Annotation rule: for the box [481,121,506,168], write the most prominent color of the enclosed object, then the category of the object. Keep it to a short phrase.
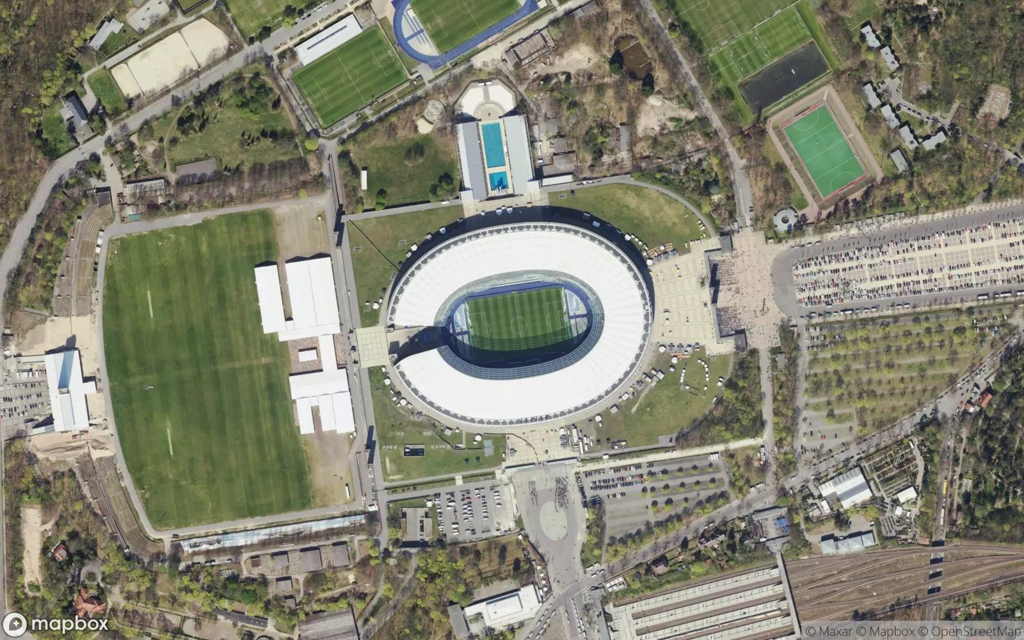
blue swimming pool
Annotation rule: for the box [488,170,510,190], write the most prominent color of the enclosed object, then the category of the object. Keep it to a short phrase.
blue swimming pool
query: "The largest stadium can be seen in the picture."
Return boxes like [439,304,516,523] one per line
[385,221,654,428]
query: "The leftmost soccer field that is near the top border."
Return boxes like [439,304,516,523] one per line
[293,24,408,127]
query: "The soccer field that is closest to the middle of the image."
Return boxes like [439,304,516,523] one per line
[465,286,573,365]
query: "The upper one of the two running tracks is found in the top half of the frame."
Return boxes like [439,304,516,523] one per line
[393,0,547,74]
